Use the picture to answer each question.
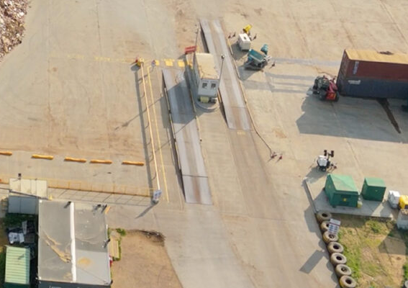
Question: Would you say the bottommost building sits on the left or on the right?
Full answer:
It is on the left.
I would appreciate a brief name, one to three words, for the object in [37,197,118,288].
building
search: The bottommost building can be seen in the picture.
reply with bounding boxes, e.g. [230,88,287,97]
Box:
[4,246,30,288]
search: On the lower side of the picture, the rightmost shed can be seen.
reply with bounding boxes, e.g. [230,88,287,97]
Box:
[360,177,388,202]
